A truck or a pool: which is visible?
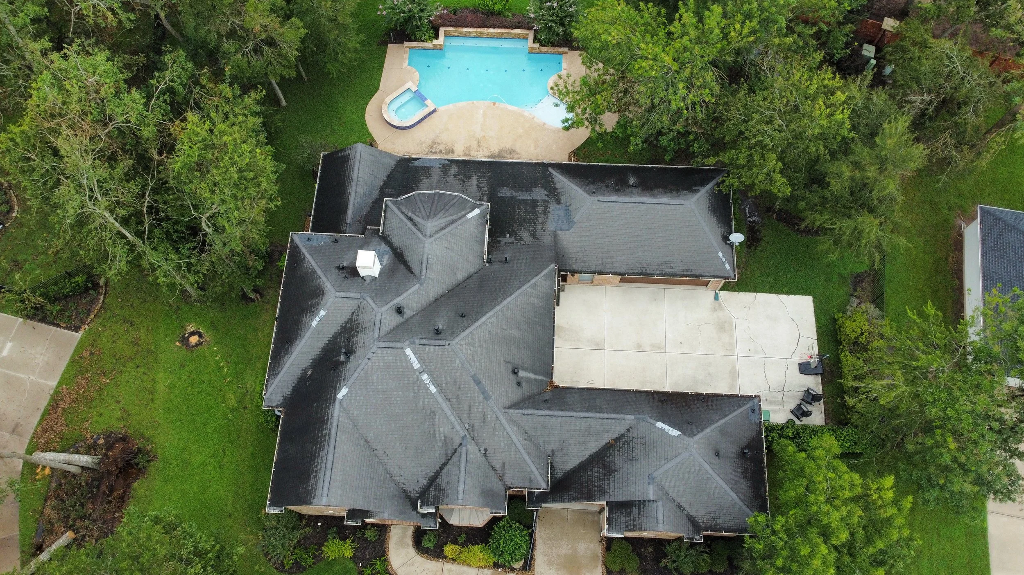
pool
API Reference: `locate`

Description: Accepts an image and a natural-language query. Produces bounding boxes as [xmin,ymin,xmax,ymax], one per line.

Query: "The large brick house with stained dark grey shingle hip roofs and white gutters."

[261,141,774,545]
